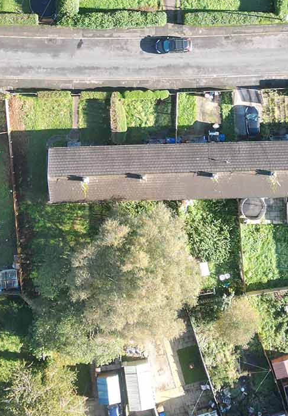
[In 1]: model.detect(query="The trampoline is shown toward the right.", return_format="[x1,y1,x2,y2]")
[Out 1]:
[242,199,268,224]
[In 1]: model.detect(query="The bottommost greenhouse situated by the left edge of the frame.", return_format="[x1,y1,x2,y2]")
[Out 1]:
[0,265,20,289]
